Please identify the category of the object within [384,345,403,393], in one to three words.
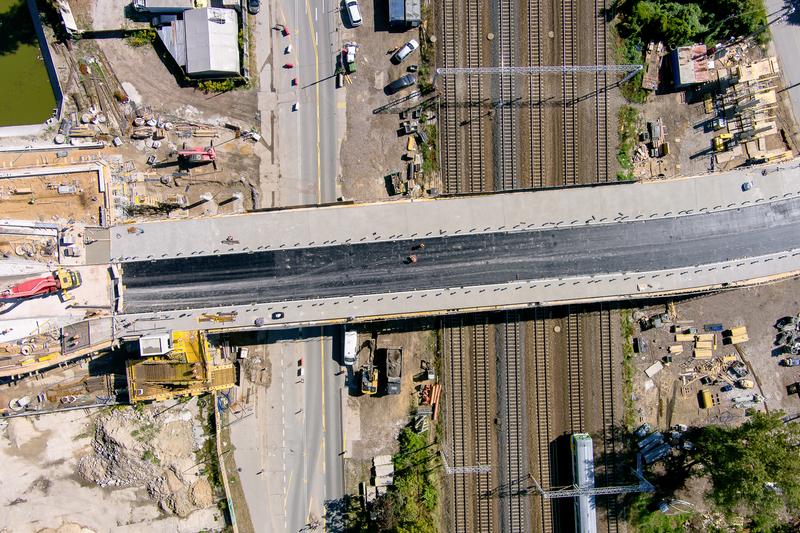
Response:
vehicle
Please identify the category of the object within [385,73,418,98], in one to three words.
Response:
car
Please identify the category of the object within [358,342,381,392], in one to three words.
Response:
work vehicle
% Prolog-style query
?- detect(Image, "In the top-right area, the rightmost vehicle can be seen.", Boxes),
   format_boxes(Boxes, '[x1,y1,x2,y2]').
[707,135,731,153]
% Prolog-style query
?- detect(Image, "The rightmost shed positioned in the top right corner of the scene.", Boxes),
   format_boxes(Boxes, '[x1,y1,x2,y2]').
[665,43,716,94]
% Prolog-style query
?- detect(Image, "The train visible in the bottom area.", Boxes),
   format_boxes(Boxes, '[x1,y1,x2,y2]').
[569,428,594,533]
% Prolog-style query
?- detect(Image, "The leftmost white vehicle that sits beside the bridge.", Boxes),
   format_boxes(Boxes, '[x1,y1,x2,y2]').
[344,330,359,363]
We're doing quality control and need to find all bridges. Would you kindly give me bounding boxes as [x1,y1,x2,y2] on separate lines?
[112,161,800,339]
